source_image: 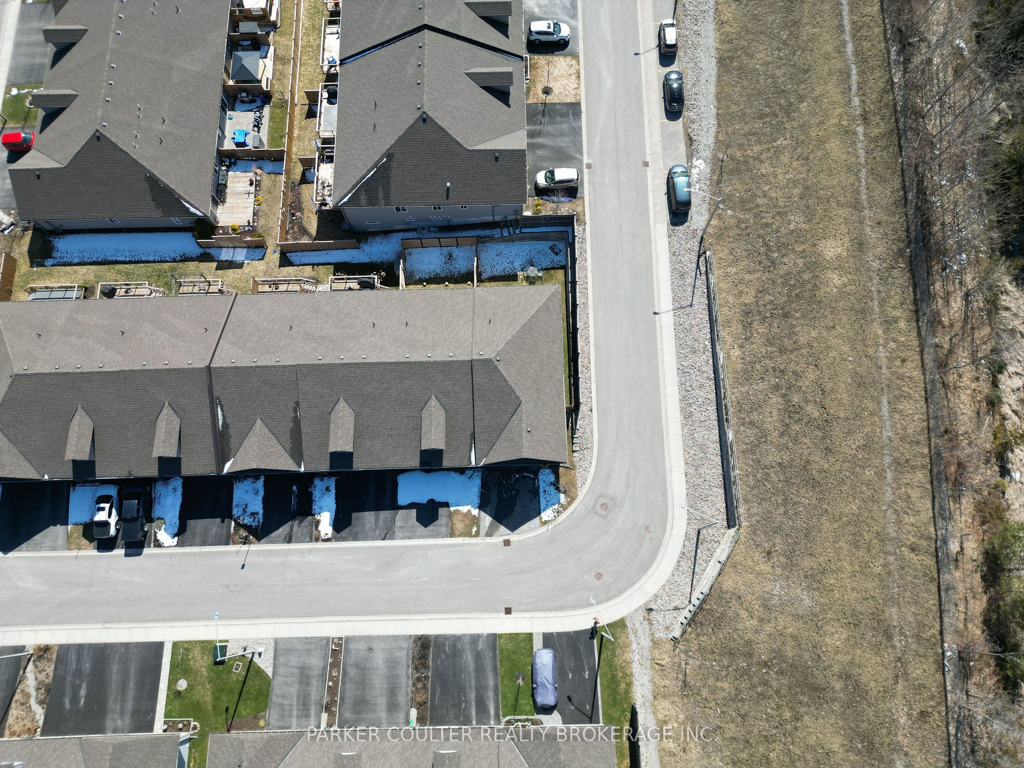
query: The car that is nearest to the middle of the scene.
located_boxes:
[533,169,582,195]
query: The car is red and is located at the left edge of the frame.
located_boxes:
[0,129,36,155]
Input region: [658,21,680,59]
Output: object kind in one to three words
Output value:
car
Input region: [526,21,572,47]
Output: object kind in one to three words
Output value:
car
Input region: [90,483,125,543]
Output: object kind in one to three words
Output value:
truck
